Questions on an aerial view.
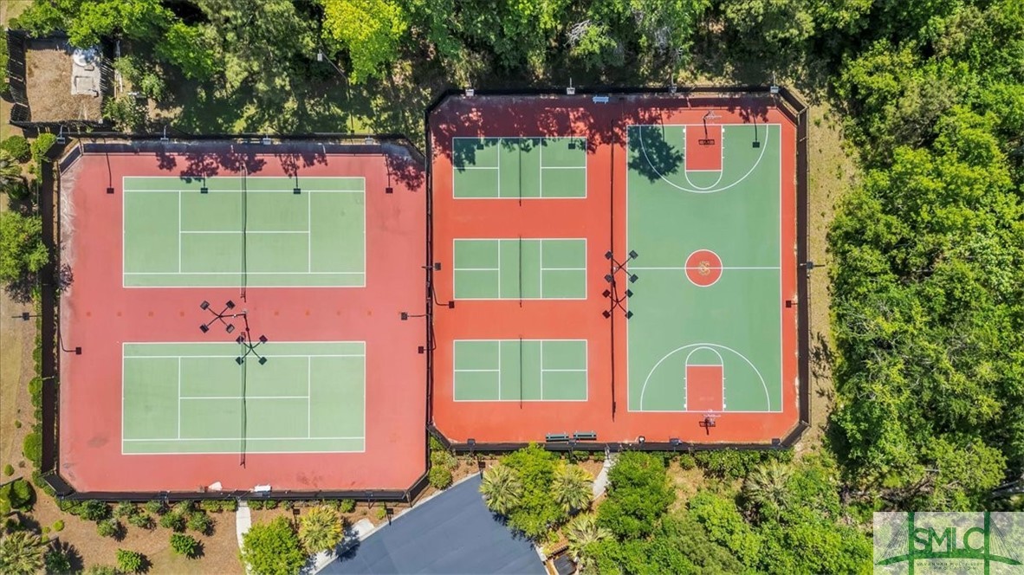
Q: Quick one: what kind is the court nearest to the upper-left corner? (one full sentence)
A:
In the photo, the court nearest to the upper-left corner shows up as a tennis court.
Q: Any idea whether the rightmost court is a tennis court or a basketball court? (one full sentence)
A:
In the photo, the rightmost court shows up as a basketball court.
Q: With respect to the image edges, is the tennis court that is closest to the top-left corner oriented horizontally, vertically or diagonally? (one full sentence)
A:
In this picture, the tennis court that is closest to the top-left corner lies horizontally.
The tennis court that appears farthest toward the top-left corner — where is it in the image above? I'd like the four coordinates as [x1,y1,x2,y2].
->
[122,177,365,288]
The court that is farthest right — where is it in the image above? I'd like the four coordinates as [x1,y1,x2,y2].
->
[628,124,783,412]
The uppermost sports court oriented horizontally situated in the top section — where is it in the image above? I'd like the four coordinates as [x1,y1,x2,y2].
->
[452,137,587,199]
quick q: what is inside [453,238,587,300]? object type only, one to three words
sports court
